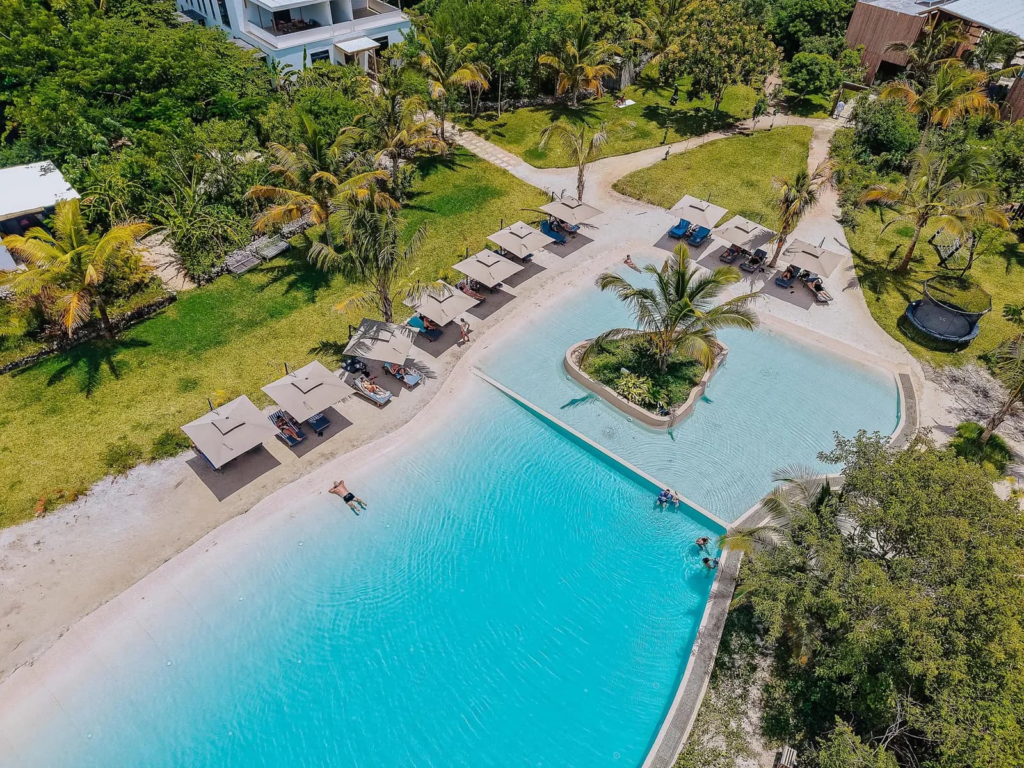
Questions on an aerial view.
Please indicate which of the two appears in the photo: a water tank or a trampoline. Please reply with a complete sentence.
The image shows a trampoline.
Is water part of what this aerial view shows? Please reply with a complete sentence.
Yes, there is water in the image.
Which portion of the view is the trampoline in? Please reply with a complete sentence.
You can find the trampoline in the right area of the picture.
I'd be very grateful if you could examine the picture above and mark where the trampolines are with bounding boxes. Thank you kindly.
[902,277,990,347]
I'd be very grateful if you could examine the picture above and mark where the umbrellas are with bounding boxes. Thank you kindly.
[406,276,479,327]
[487,215,556,257]
[453,244,523,291]
[542,189,602,233]
[181,393,282,467]
[710,211,777,256]
[667,189,730,232]
[342,318,419,375]
[262,358,357,425]
[777,234,844,280]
